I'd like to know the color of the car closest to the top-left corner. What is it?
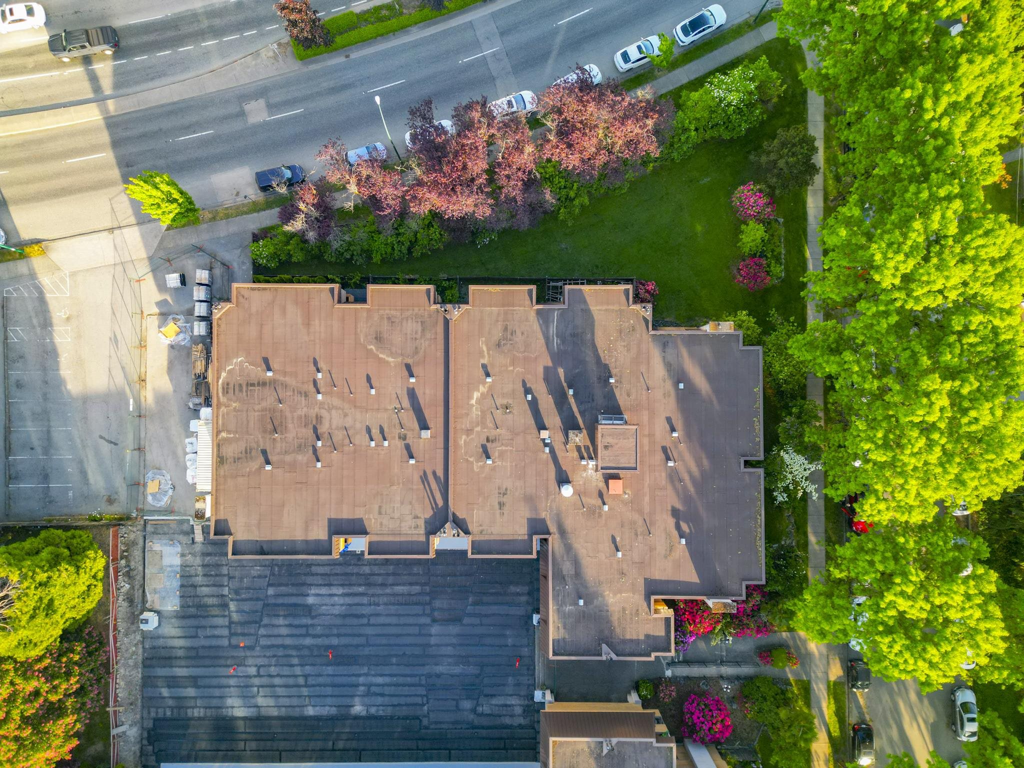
white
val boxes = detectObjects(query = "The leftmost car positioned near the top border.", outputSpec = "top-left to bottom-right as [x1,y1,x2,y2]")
[0,5,53,36]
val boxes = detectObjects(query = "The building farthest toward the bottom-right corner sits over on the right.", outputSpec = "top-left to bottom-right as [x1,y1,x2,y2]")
[540,685,738,768]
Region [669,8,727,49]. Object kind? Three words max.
car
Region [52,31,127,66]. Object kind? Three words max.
truck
